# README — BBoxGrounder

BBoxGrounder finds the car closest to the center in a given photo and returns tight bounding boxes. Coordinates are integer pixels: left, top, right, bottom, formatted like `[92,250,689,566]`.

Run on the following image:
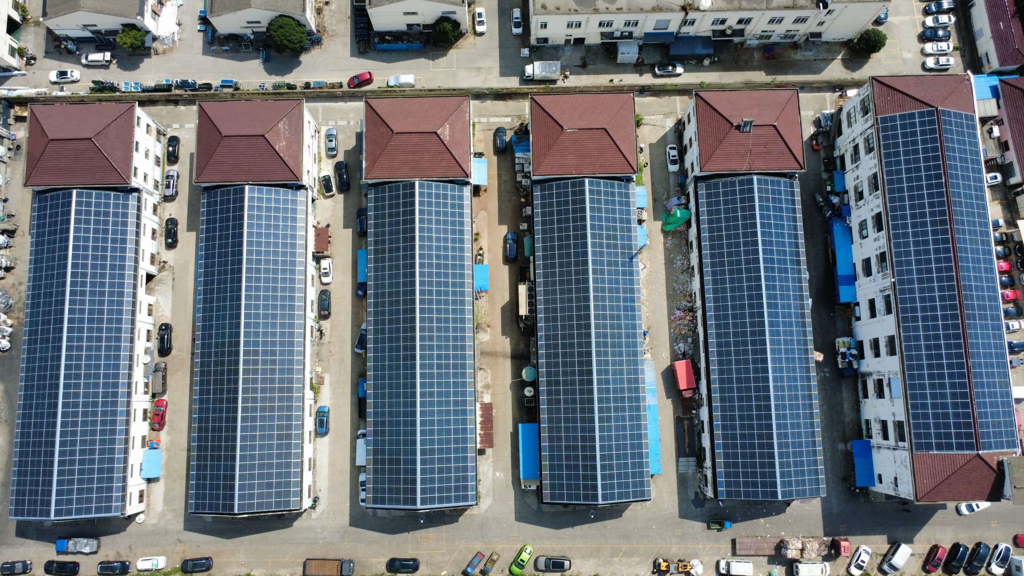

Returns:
[505,231,519,262]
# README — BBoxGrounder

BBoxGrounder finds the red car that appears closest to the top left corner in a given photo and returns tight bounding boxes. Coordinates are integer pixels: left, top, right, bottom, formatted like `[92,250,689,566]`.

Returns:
[348,70,375,86]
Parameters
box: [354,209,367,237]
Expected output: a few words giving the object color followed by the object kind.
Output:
black vehicle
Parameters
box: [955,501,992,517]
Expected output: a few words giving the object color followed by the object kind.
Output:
white car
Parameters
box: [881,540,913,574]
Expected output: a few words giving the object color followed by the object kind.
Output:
white van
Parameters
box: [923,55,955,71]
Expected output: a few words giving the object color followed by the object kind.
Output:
white car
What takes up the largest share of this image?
buildings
